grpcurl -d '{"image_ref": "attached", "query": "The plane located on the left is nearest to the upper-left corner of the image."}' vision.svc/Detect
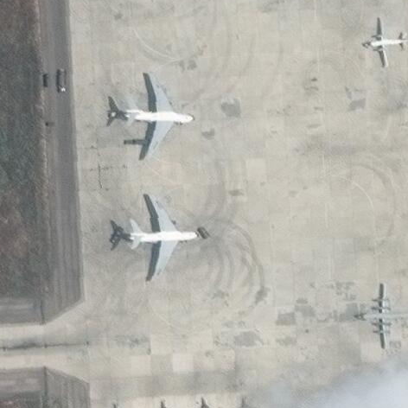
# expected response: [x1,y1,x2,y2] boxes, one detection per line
[117,73,193,159]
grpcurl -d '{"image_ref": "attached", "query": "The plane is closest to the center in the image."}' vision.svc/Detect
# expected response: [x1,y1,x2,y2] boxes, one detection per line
[120,192,196,279]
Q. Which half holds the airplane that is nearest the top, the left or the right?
right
